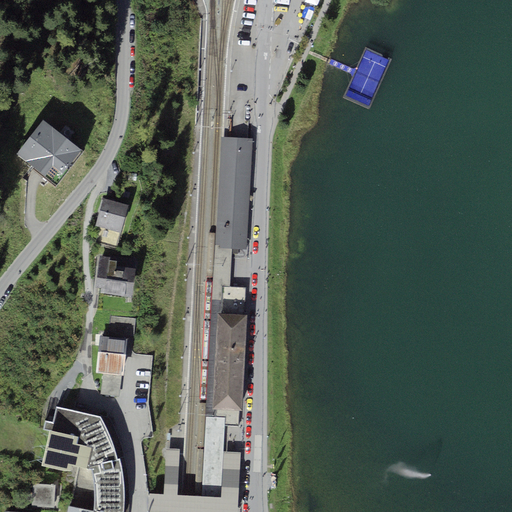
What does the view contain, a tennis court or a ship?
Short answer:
tennis court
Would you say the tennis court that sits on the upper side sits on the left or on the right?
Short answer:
right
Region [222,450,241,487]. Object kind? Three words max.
building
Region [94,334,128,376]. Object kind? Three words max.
house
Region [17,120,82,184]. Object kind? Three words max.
house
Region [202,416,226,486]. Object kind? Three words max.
building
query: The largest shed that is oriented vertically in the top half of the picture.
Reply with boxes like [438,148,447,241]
[215,137,253,249]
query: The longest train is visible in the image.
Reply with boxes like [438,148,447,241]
[200,279,212,401]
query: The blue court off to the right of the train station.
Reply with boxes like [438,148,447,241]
[343,47,392,108]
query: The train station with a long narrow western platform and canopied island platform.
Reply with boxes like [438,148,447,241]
[170,0,240,462]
